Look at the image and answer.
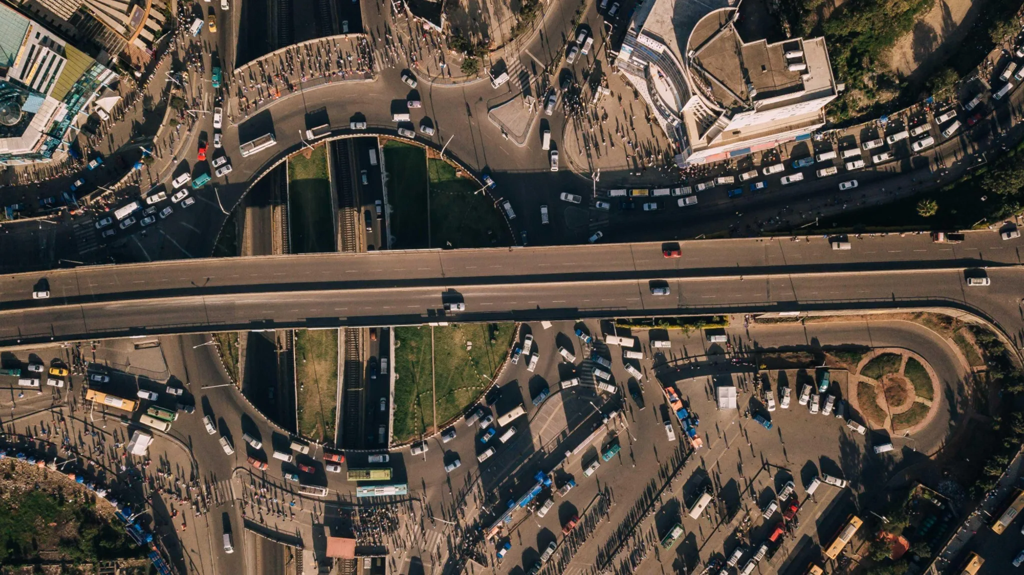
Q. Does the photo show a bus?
Yes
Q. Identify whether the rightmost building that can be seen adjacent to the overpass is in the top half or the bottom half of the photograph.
top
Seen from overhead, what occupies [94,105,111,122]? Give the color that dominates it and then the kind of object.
white car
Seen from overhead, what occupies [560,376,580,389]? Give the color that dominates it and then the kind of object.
white vehicle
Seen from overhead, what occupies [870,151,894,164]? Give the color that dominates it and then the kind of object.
white vehicle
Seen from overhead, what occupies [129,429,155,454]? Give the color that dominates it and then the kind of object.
white tent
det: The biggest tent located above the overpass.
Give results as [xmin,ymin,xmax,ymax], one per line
[96,90,124,116]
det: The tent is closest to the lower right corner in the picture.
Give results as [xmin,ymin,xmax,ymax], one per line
[714,385,736,408]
